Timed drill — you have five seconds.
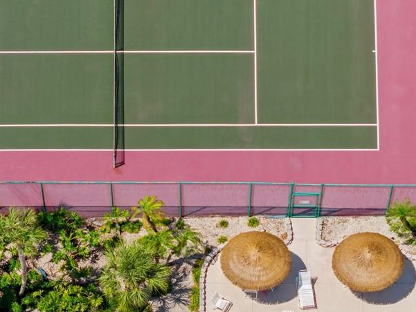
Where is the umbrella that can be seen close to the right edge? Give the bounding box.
[330,233,405,295]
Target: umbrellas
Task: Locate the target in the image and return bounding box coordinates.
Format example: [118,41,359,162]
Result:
[219,230,294,290]
[330,233,405,295]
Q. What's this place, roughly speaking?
sports ground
